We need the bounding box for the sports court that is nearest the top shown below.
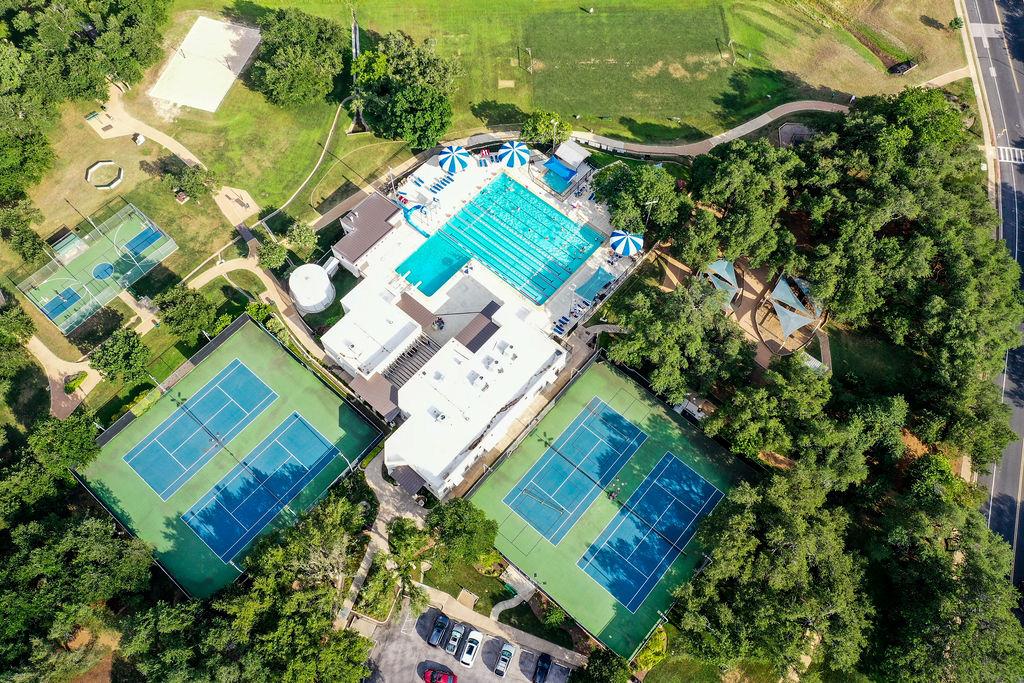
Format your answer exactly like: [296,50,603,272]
[148,15,261,113]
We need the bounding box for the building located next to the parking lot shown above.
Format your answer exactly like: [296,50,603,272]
[320,277,566,504]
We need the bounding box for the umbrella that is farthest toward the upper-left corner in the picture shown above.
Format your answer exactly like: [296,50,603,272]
[438,146,469,170]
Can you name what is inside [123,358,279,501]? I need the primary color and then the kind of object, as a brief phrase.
blue tennis court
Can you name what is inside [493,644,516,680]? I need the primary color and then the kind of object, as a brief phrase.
white car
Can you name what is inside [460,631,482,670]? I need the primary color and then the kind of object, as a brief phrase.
white car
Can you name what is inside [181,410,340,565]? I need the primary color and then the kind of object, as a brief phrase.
blue tennis court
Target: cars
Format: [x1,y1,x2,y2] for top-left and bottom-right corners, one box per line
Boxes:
[460,631,482,670]
[445,625,465,658]
[425,670,459,683]
[532,653,551,683]
[493,644,516,680]
[426,612,451,651]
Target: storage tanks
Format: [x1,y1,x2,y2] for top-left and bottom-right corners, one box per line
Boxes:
[288,266,337,313]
